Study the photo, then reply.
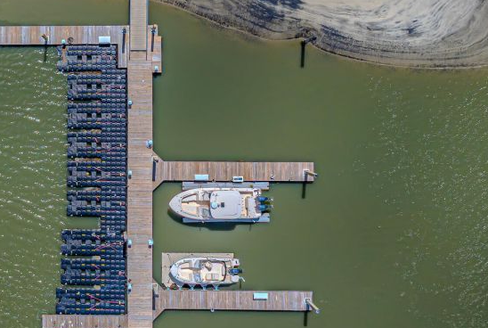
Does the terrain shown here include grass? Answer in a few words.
No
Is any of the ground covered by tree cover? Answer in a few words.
No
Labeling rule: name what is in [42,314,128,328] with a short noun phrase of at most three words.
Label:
pier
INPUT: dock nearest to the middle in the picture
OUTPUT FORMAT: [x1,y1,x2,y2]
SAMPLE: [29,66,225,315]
[160,161,315,182]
